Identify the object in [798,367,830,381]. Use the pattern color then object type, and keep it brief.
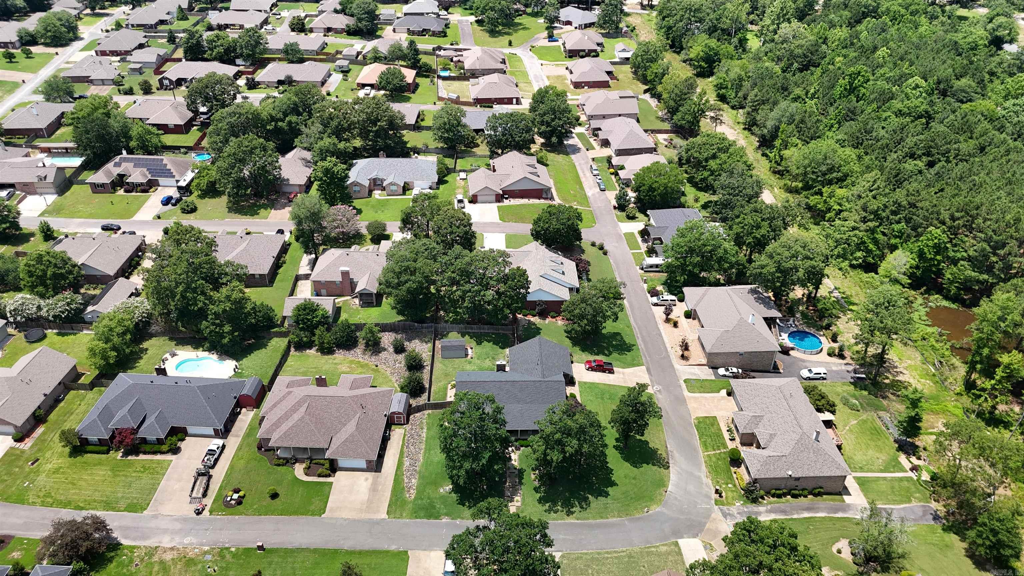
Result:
white car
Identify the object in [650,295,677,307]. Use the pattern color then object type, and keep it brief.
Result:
white vehicle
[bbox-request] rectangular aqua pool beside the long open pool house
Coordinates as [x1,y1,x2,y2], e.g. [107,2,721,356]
[34,151,88,169]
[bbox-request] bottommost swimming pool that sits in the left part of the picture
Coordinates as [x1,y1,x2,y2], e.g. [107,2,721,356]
[160,351,237,378]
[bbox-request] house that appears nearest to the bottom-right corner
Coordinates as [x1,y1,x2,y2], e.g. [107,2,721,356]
[723,378,852,491]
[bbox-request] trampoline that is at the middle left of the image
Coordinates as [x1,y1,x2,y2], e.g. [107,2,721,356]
[22,328,49,345]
